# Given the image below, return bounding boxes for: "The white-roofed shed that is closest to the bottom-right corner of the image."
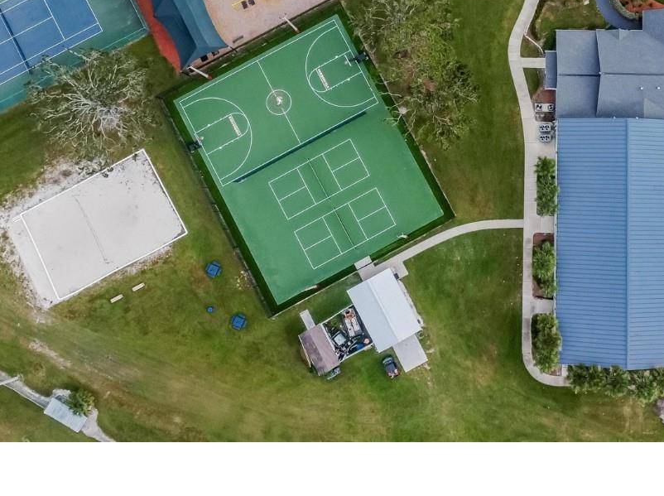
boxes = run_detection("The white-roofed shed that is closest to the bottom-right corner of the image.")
[347,268,421,352]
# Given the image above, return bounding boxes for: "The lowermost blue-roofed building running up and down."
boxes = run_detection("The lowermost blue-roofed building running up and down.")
[558,118,664,371]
